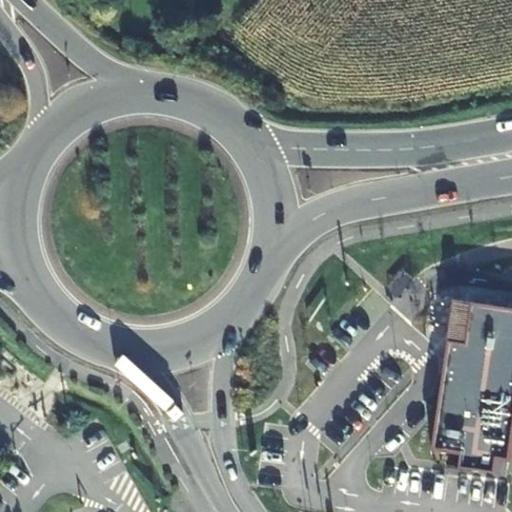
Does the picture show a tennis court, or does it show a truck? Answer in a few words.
truck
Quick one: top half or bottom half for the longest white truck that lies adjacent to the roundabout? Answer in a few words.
bottom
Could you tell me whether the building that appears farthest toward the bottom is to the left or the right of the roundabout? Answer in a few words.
right of it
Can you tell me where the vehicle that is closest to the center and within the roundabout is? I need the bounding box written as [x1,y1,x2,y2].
[248,250,261,274]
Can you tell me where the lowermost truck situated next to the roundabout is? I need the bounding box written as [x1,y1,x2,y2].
[114,356,184,421]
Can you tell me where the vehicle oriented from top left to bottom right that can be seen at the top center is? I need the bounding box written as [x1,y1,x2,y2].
[244,112,265,129]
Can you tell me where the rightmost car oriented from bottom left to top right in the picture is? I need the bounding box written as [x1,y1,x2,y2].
[408,407,426,430]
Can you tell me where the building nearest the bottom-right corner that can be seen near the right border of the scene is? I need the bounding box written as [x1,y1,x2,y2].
[432,300,512,477]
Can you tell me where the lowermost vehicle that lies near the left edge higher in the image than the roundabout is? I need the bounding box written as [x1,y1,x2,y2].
[19,47,34,68]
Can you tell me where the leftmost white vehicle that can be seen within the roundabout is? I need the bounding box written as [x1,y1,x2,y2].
[78,312,101,330]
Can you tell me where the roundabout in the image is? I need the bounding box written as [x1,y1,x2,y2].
[0,72,291,368]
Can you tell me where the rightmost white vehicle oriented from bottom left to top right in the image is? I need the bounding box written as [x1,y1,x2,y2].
[384,434,406,452]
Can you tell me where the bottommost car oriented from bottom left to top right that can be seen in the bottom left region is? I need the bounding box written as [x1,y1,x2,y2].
[96,452,116,470]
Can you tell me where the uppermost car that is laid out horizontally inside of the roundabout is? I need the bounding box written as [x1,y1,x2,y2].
[154,89,178,101]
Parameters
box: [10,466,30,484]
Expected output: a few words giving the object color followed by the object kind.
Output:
white car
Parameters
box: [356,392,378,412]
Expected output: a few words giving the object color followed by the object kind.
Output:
white car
